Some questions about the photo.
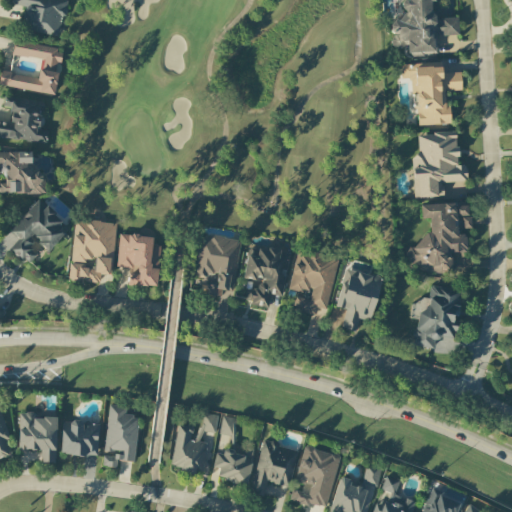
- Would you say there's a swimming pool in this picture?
Yes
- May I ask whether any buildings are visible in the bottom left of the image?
Yes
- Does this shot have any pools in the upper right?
Yes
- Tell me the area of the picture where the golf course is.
top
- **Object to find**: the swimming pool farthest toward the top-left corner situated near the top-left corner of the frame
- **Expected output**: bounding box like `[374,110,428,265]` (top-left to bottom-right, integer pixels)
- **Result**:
[13,57,42,76]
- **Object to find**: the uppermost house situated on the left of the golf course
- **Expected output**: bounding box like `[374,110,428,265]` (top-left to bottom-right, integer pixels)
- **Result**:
[15,0,72,40]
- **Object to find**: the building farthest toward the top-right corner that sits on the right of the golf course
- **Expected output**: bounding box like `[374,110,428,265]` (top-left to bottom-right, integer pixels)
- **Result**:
[441,17,460,36]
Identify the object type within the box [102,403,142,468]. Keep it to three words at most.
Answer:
house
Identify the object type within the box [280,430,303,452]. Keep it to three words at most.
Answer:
swimming pool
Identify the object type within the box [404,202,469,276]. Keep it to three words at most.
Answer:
house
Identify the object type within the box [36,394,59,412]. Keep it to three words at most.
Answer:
swimming pool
